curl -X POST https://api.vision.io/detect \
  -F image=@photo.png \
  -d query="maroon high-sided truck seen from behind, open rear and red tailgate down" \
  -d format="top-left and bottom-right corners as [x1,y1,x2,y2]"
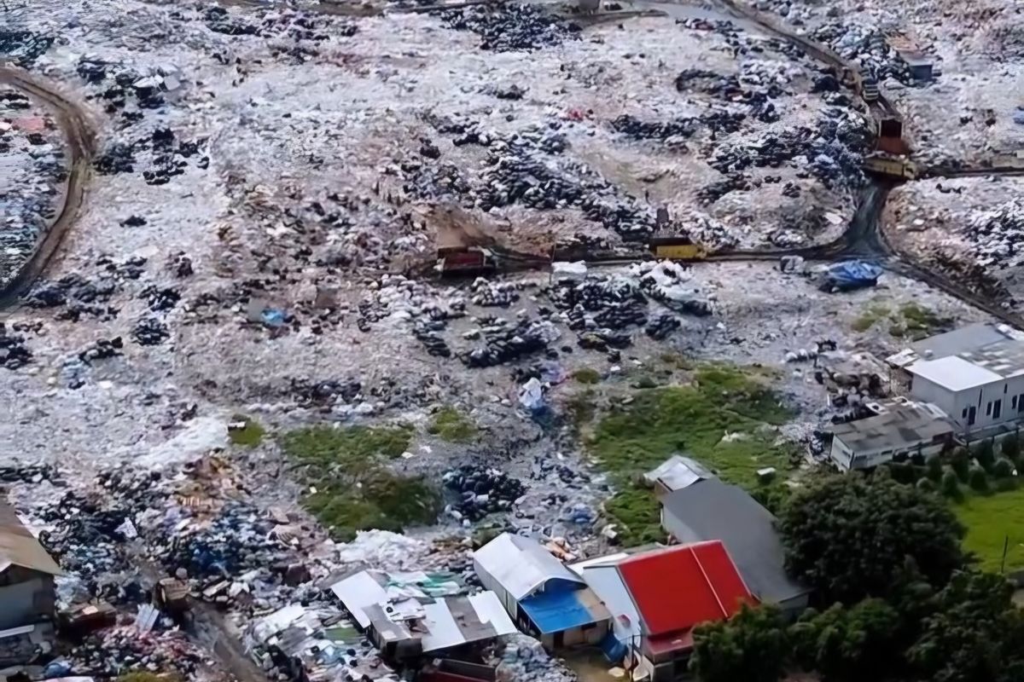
[880,108,905,151]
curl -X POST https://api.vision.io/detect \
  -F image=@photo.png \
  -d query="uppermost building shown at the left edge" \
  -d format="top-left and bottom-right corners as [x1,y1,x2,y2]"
[0,506,67,628]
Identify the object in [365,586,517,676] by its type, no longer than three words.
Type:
shed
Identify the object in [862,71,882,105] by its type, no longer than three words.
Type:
vehicle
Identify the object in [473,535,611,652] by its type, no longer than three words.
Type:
house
